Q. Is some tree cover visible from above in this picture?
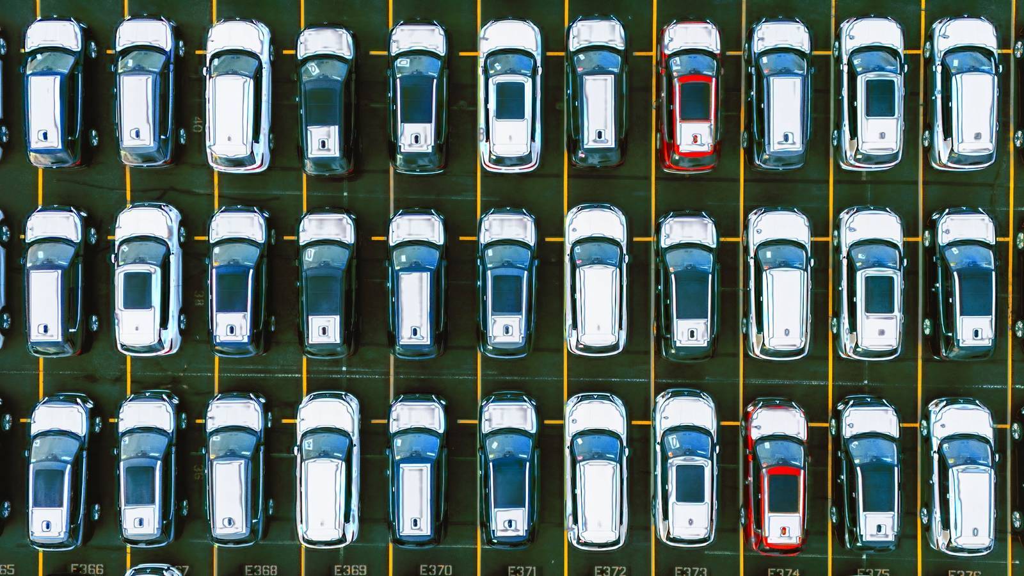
No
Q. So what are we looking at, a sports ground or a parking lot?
parking lot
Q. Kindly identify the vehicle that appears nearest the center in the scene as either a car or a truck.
car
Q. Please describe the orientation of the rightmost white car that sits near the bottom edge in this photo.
up and down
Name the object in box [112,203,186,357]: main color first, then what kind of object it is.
white car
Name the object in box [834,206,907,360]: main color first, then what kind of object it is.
white car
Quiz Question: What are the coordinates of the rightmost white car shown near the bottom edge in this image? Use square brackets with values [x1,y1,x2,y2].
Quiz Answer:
[922,398,998,553]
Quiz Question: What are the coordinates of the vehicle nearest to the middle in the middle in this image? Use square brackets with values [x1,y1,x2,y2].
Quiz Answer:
[476,206,540,360]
